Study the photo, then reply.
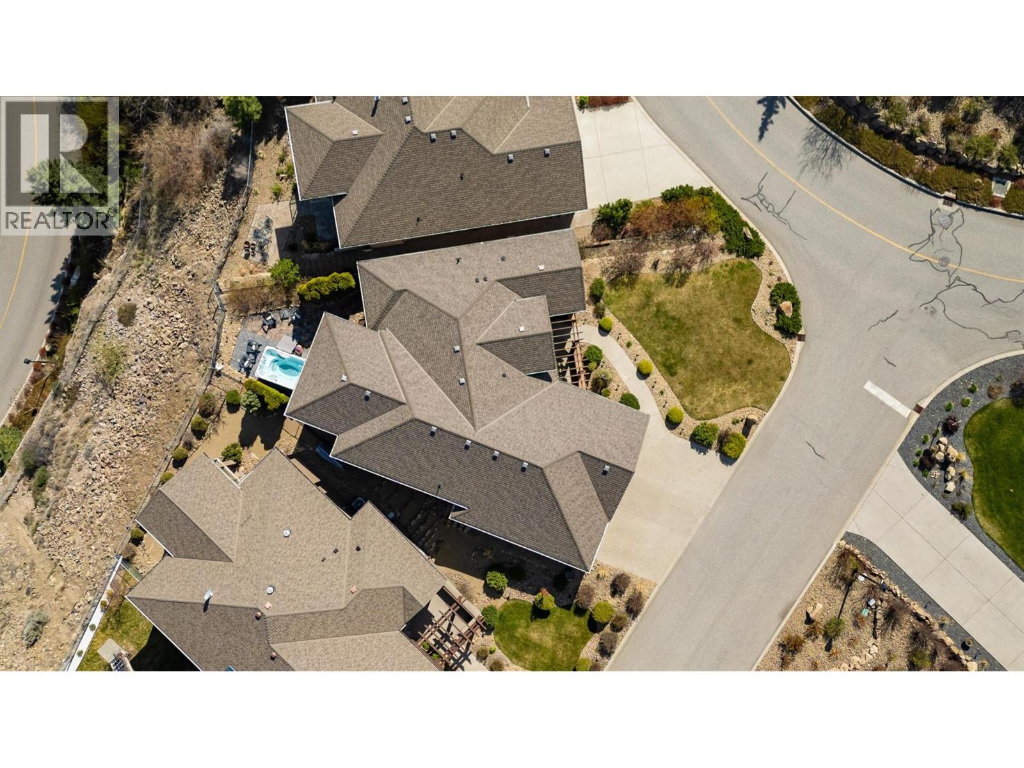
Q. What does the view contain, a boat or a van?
boat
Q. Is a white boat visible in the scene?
No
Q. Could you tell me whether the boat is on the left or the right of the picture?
left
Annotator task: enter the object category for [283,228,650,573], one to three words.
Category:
house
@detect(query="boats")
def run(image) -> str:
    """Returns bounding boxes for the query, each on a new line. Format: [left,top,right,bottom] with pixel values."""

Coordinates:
[316,445,344,469]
